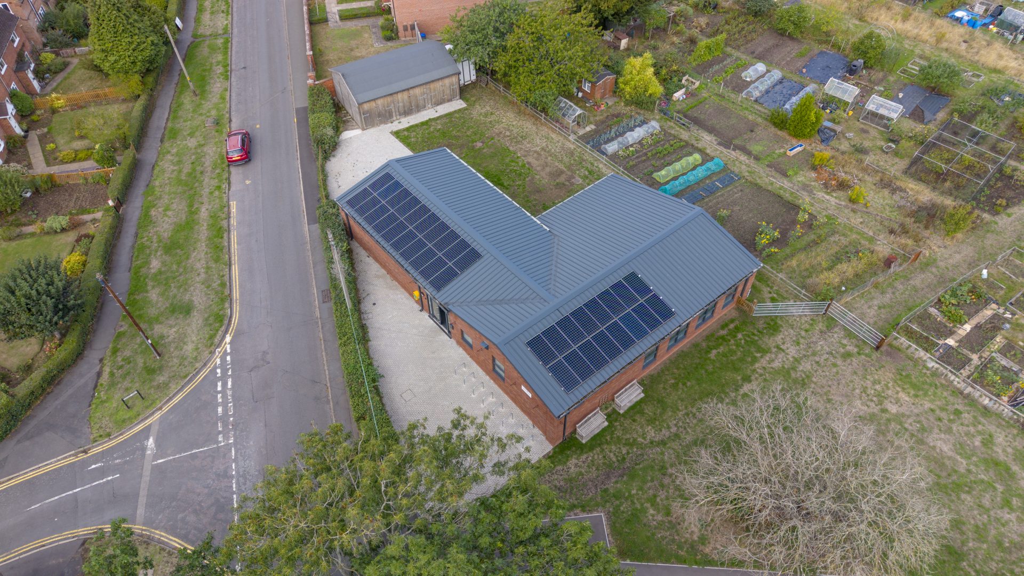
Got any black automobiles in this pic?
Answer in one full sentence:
No, the frame has no black automobile in it.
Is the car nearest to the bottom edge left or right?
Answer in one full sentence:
The car nearest to the bottom edge is on the left side of the image.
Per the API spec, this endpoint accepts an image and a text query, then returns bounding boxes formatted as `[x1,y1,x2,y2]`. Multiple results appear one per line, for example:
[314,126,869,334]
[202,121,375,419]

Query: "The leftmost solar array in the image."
[347,172,481,291]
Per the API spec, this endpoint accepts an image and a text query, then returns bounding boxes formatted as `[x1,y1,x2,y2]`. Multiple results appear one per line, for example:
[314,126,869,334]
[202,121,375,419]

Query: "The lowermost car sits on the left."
[220,123,251,161]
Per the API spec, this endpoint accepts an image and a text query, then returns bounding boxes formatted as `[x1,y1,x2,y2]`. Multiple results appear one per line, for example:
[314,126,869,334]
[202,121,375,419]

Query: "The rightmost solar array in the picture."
[526,271,675,393]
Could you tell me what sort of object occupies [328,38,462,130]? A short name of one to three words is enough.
barn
